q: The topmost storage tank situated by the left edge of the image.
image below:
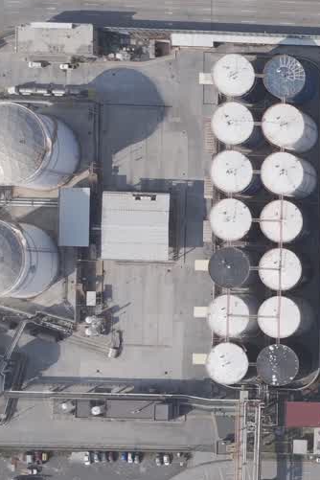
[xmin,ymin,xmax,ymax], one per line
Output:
[0,102,81,193]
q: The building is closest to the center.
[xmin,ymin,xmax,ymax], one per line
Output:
[102,193,177,261]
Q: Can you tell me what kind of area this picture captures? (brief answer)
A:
industrial area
